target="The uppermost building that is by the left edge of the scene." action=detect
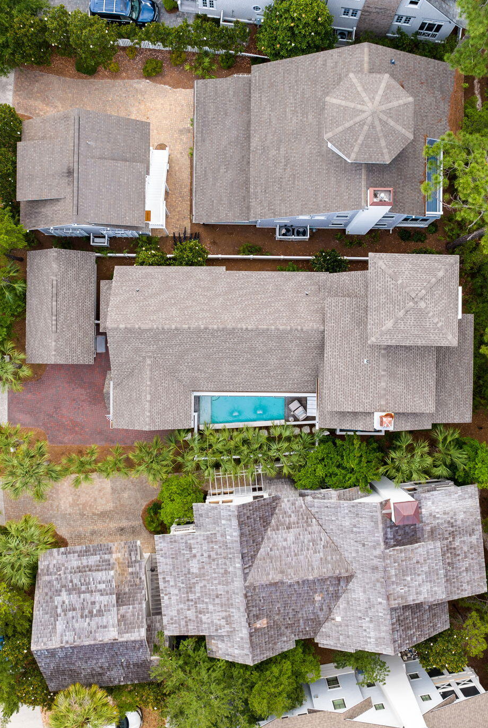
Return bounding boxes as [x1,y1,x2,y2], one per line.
[16,108,174,238]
